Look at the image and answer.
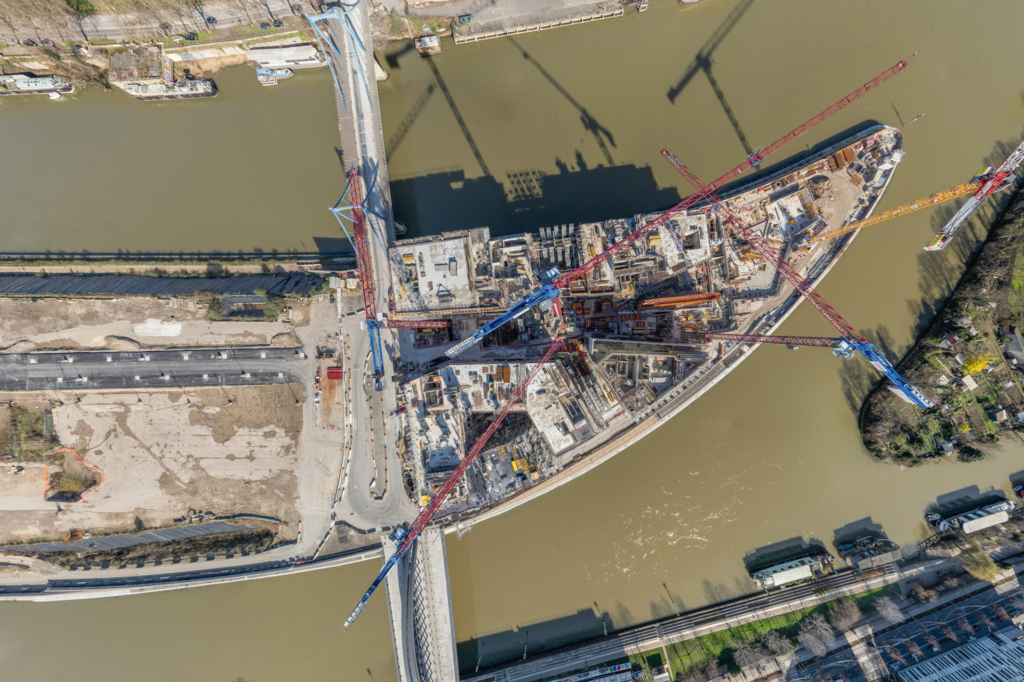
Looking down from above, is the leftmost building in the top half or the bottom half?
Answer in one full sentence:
Seen from above, the leftmost building lies in the top half of the view.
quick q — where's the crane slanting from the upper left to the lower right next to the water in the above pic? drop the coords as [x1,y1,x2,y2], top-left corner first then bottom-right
[644,138,944,416]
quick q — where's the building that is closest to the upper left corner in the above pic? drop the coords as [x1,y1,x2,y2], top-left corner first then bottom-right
[107,43,183,88]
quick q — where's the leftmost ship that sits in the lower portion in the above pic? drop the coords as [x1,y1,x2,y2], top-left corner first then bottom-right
[748,547,834,593]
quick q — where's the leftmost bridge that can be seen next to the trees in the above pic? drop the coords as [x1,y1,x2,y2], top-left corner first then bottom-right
[303,0,406,282]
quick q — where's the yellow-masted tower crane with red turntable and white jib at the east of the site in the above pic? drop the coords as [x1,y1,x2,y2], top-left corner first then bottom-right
[803,131,1024,259]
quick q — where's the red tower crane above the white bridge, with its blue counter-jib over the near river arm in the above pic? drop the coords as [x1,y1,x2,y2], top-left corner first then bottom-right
[335,324,573,638]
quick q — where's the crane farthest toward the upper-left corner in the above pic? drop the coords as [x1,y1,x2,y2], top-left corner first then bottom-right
[345,155,458,403]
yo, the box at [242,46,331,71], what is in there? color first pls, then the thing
white boat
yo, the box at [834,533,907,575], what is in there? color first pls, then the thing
gray ship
